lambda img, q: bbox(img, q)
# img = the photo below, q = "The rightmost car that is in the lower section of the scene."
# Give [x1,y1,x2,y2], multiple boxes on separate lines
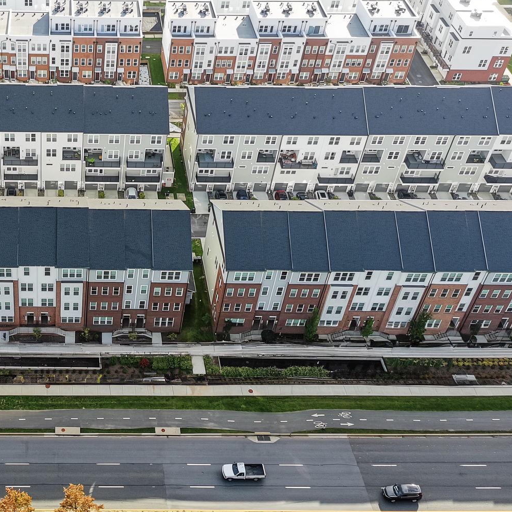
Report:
[382,484,425,503]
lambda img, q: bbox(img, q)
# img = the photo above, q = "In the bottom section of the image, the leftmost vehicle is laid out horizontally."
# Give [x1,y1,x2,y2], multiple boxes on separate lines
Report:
[222,462,268,481]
